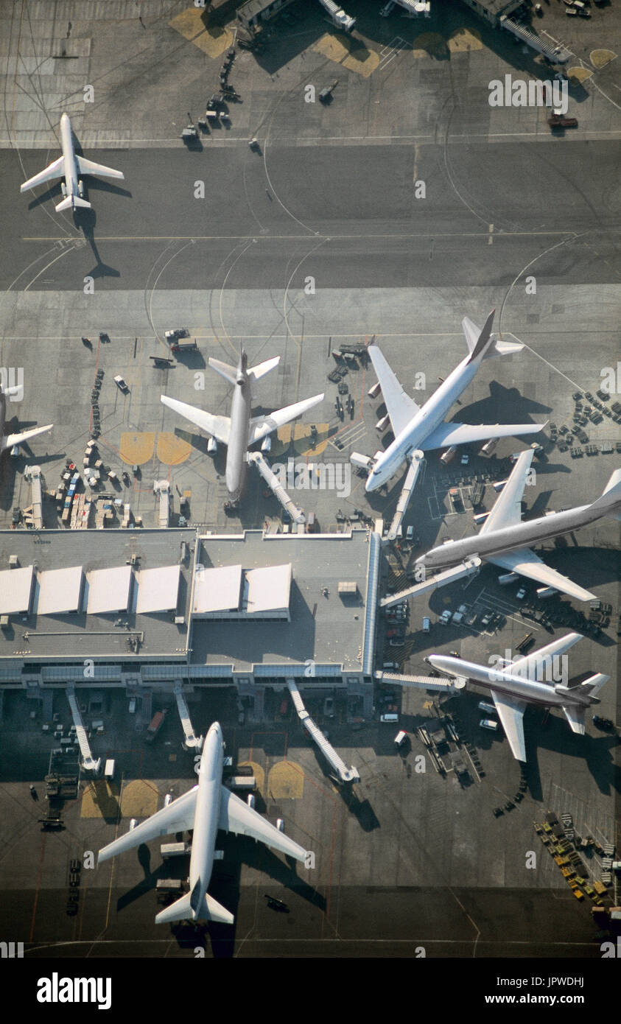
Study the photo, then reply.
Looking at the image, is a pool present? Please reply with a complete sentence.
No, there is no pool in the image.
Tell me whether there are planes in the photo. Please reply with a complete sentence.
Yes, looking at the shot, I can spot a plane.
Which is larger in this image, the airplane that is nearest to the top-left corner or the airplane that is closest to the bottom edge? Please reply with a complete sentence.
Of the two, the airplane that is closest to the bottom edge is larger and the airplane that is nearest to the top-left corner is the smaller one.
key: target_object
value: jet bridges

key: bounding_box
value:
[317,0,354,32]
[288,684,362,785]
[22,465,48,529]
[244,449,307,529]
[386,449,424,552]
[149,477,175,527]
[376,550,481,619]
[498,15,575,68]
[388,0,433,22]
[381,670,467,700]
[65,687,104,775]
[174,687,205,752]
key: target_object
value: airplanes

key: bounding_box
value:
[411,446,621,598]
[364,311,546,496]
[162,329,320,503]
[427,629,612,762]
[98,720,308,920]
[20,115,123,216]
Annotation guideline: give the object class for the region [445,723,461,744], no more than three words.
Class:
work vehicle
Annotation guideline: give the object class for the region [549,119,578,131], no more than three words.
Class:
vehicle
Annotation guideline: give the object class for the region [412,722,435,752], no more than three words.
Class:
work vehicle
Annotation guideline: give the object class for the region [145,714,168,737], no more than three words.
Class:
truck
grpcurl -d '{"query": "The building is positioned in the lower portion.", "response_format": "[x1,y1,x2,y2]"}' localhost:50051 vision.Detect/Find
[0,520,386,732]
